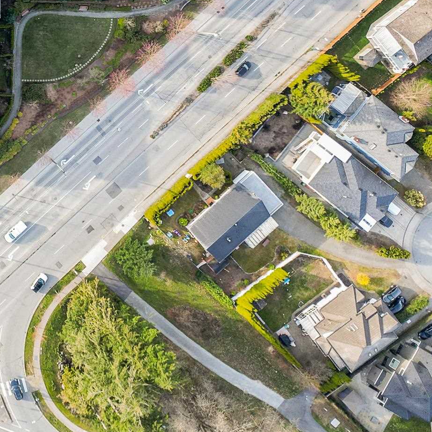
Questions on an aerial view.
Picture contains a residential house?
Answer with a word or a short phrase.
Yes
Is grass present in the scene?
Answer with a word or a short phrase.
Yes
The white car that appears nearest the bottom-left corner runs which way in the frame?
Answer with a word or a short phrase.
diagonally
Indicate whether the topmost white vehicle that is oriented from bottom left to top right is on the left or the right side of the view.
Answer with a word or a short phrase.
left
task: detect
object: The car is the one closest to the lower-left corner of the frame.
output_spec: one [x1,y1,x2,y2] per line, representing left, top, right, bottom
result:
[10,377,23,400]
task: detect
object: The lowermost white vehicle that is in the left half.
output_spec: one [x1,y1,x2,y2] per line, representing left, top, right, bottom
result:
[29,272,49,293]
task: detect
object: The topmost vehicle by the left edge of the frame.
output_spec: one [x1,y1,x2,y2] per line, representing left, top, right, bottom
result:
[3,219,29,242]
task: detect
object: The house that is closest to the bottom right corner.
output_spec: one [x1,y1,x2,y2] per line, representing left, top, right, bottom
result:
[361,328,432,420]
